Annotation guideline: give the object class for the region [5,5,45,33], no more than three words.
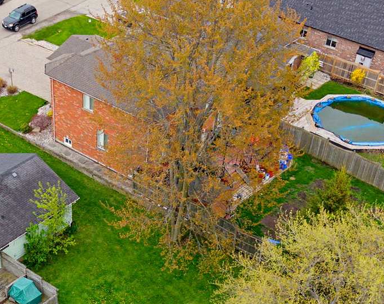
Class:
car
